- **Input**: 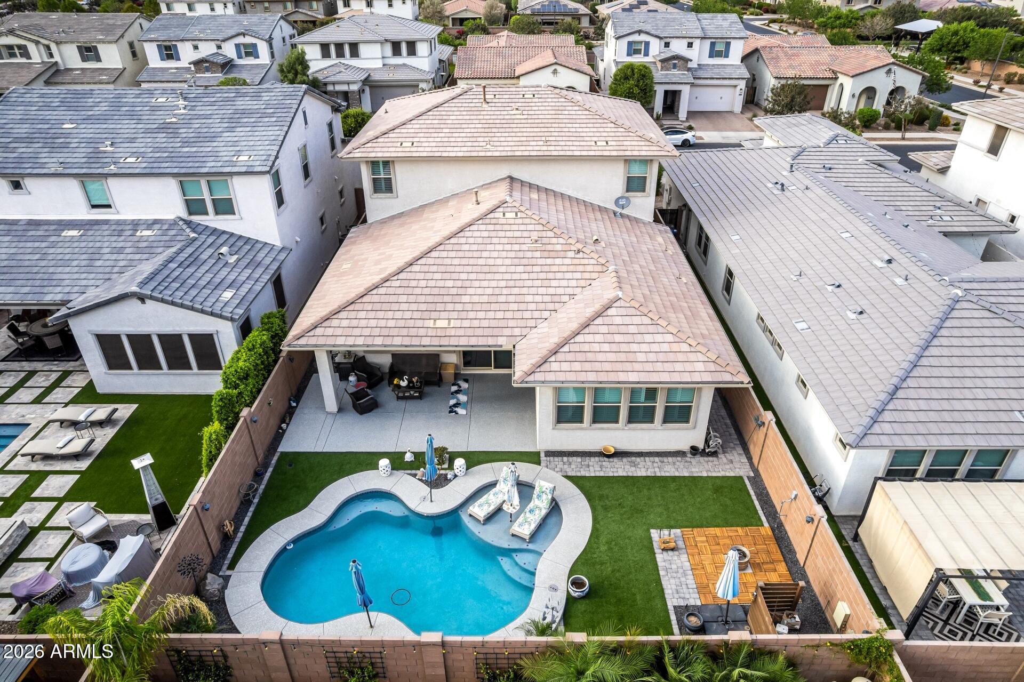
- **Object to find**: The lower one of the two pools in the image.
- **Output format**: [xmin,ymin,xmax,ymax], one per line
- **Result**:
[262,483,563,634]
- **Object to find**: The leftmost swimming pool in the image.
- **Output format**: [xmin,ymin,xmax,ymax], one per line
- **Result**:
[0,423,31,453]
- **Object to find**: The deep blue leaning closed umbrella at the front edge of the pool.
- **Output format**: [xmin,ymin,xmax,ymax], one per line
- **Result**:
[350,559,375,629]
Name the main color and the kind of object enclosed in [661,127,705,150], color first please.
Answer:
white car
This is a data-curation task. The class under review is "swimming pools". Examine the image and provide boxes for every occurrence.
[262,483,563,634]
[0,423,31,453]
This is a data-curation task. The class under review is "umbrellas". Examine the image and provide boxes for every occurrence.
[716,543,744,614]
[501,459,520,510]
[421,433,438,502]
[350,559,375,629]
